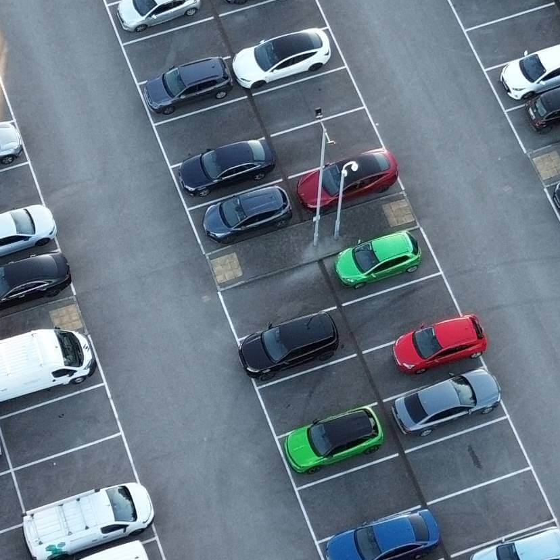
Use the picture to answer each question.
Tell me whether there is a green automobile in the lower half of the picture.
Yes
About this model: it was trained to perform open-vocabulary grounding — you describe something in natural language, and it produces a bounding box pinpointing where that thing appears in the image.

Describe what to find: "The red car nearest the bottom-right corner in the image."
[391,313,491,377]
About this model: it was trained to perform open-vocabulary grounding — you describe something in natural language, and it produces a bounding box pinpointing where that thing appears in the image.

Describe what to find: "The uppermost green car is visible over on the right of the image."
[333,226,424,287]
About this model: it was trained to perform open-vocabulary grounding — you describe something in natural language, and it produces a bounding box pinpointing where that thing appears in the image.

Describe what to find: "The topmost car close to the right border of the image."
[497,43,560,99]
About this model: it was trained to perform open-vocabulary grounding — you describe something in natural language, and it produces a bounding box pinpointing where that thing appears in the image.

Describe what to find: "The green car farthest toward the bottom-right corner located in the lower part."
[283,408,388,477]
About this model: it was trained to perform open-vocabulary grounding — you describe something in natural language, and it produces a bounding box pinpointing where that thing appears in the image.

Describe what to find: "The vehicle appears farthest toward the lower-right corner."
[466,522,560,560]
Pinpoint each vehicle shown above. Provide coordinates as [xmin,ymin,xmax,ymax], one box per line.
[0,322,99,404]
[466,522,560,560]
[283,408,388,477]
[325,504,445,560]
[0,247,76,310]
[176,139,279,202]
[201,185,296,247]
[115,0,203,32]
[333,226,424,287]
[0,206,59,259]
[235,307,344,378]
[229,26,335,90]
[523,88,560,137]
[143,56,235,118]
[295,145,402,212]
[497,43,560,99]
[389,365,504,435]
[19,474,157,560]
[65,535,151,560]
[391,313,491,377]
[0,121,25,162]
